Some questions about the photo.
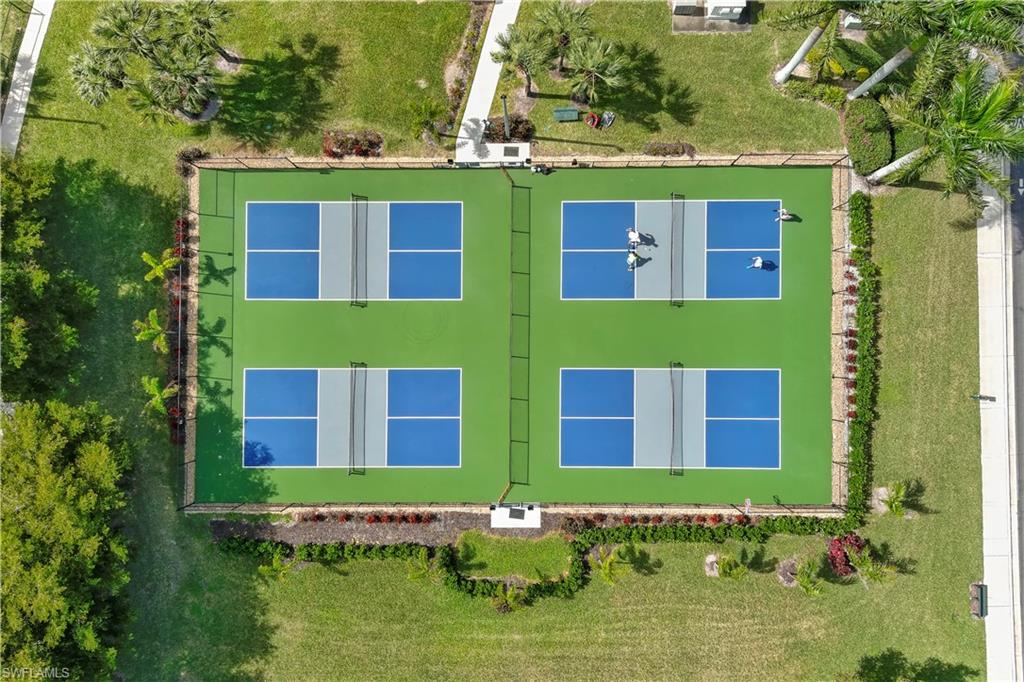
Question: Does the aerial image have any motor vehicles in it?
No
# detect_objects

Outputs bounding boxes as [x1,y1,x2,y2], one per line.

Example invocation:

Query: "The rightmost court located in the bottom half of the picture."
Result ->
[560,368,781,469]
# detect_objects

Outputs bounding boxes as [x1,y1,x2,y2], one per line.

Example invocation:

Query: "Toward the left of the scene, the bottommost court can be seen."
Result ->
[243,368,462,468]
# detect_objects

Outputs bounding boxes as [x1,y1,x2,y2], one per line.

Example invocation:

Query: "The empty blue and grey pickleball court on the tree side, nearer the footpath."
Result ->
[246,201,463,300]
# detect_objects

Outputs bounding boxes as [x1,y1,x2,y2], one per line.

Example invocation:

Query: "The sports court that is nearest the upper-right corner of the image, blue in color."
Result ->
[561,200,781,300]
